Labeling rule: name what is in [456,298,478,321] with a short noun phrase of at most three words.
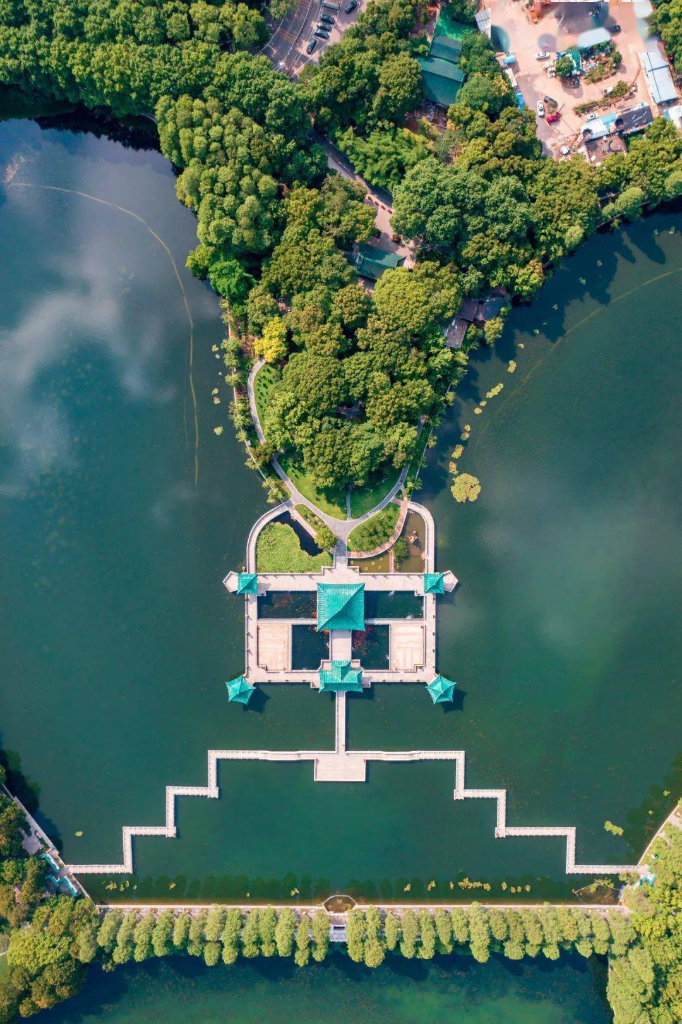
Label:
house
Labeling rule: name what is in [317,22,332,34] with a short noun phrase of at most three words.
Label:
vehicle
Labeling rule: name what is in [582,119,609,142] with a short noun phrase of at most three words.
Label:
shed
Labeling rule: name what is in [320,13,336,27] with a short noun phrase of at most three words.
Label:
car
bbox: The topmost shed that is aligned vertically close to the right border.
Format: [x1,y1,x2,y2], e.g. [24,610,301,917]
[630,0,678,104]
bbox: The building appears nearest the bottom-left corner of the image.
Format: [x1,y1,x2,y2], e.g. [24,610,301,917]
[224,674,257,705]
